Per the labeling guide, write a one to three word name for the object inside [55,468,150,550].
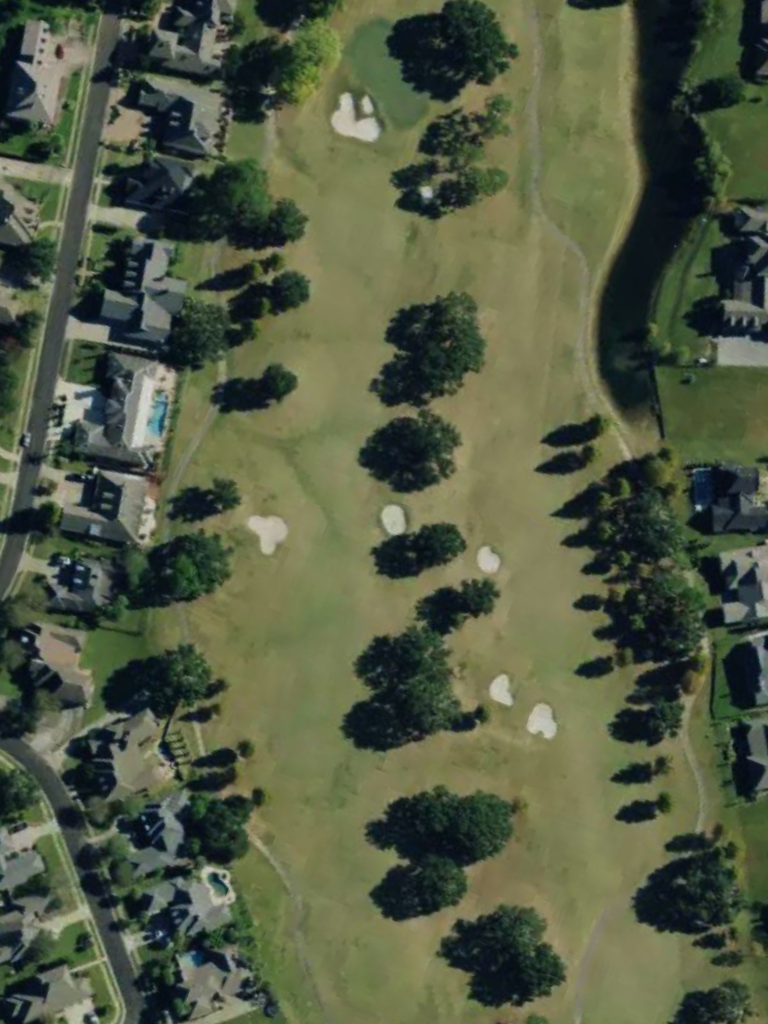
house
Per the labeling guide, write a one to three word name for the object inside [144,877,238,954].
house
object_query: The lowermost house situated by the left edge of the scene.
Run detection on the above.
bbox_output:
[1,958,98,1024]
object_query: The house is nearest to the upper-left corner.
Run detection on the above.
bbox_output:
[7,22,64,135]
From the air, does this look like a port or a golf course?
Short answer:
golf course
